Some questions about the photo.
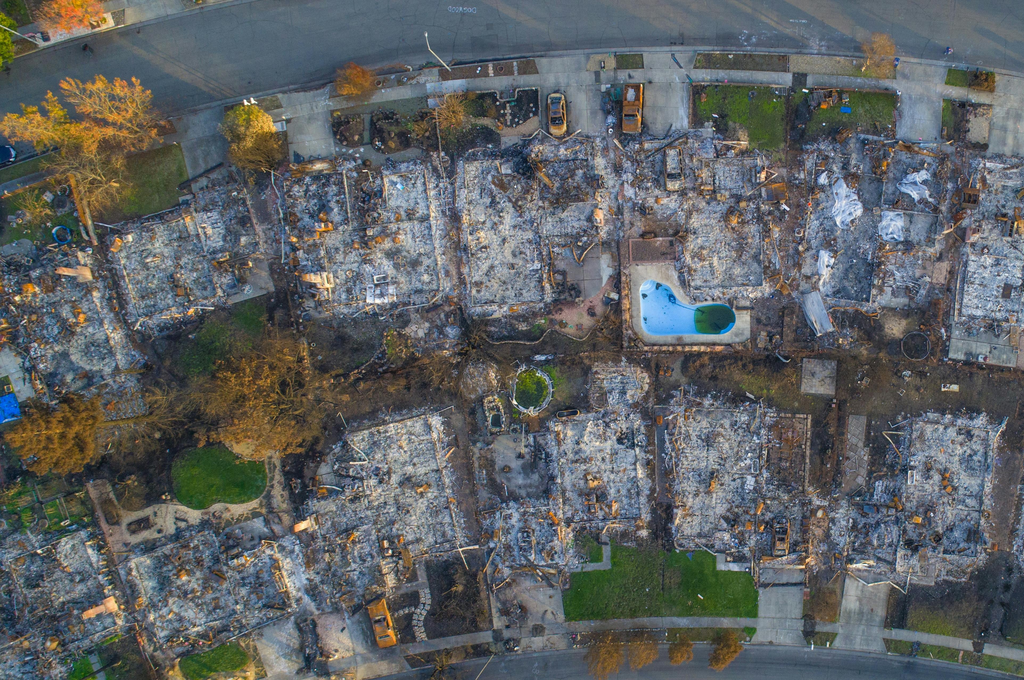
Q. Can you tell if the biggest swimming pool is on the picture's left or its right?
right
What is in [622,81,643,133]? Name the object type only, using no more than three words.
truck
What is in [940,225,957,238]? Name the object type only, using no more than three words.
chimney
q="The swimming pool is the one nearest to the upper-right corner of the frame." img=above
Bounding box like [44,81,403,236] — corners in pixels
[638,278,737,337]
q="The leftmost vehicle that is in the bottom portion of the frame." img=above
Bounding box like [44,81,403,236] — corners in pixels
[365,599,394,652]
